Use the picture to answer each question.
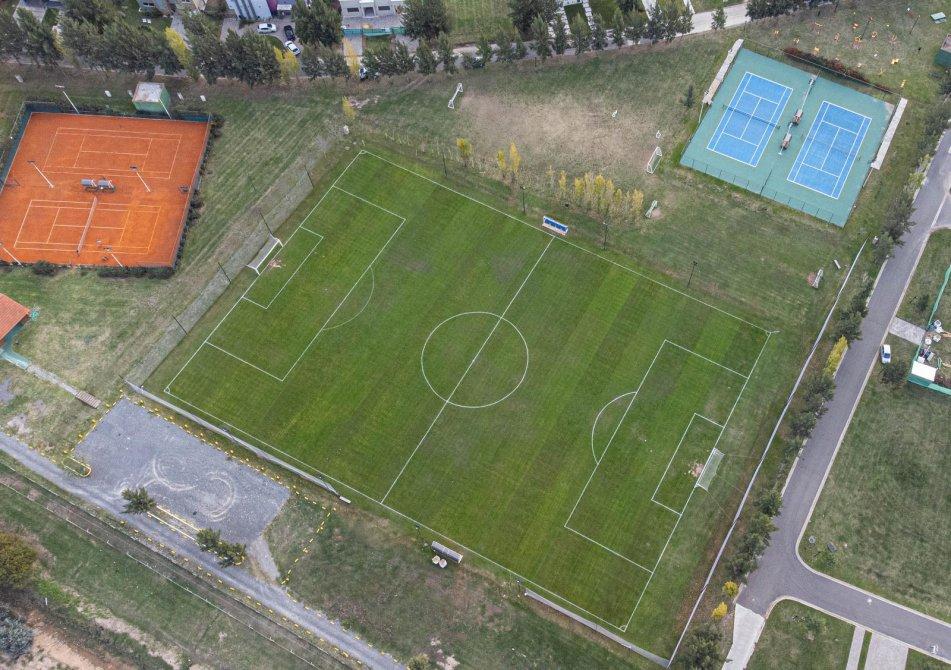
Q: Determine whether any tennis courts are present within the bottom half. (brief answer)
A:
No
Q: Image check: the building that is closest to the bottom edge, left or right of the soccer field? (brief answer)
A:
on its right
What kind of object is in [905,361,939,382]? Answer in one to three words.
building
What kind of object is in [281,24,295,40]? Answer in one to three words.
vehicle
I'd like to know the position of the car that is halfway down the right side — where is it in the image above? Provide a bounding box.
[881,343,894,362]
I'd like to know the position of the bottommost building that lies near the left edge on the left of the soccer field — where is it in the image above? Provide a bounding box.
[0,292,30,343]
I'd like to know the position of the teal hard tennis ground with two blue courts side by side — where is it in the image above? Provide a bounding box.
[681,48,893,227]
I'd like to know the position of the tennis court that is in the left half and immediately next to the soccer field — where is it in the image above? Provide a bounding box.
[0,112,206,268]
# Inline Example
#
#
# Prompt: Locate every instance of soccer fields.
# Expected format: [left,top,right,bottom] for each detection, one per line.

[124,125,805,670]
